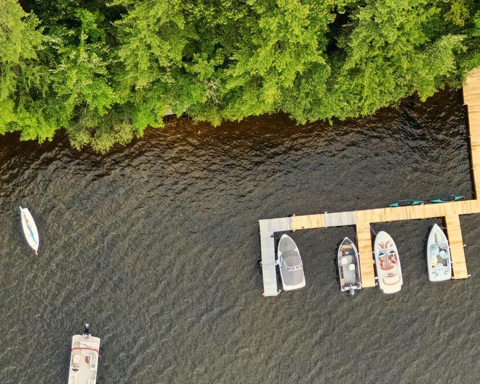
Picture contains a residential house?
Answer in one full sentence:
No, the scene contains no residential house.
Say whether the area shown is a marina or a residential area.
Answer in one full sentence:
The area seen from above is a marina.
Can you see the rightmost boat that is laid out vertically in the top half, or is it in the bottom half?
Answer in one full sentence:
It is in the bottom half that the rightmost boat that is laid out vertically appears.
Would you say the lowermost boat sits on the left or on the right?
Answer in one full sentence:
The lowermost boat sits on the left side.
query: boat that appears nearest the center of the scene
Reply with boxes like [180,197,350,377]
[278,234,307,291]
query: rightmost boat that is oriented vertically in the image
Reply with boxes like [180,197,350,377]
[424,223,452,282]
